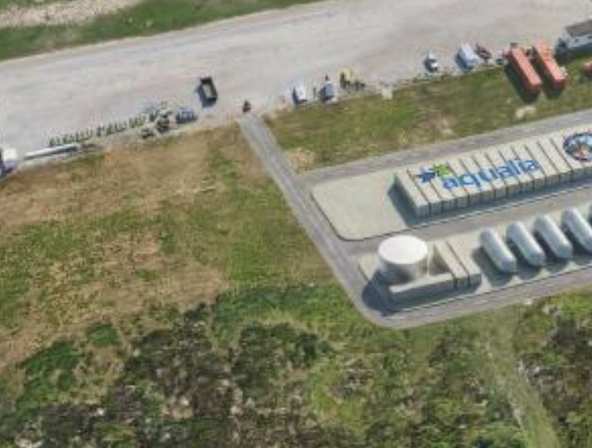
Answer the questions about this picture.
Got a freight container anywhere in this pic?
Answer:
Yes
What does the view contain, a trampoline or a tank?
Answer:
tank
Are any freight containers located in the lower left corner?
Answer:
No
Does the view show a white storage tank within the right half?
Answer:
Yes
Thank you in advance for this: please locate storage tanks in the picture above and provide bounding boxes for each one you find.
[534,212,574,265]
[563,205,592,251]
[377,233,429,286]
[479,228,518,281]
[507,220,546,274]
